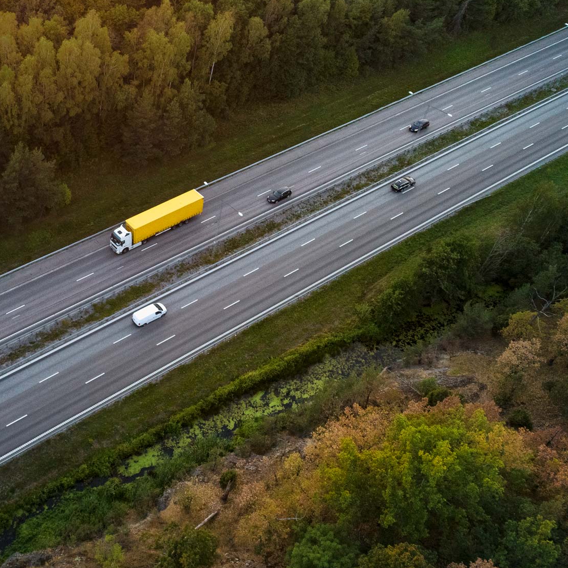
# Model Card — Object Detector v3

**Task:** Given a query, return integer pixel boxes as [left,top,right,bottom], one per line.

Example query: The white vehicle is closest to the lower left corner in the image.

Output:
[133,302,169,326]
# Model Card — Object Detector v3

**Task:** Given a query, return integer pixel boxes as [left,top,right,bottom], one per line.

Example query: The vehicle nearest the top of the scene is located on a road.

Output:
[408,118,431,133]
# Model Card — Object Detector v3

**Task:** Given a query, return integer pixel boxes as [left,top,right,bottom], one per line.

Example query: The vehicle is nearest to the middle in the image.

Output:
[267,187,292,205]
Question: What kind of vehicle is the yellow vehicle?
truck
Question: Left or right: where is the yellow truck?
left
